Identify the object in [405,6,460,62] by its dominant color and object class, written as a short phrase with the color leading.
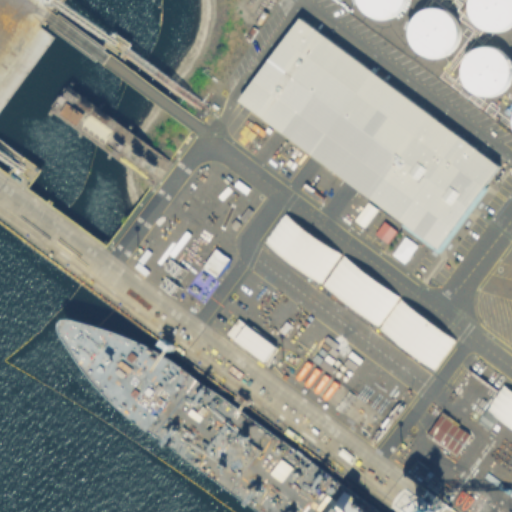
white storage tank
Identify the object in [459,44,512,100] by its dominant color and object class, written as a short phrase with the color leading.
white storage tank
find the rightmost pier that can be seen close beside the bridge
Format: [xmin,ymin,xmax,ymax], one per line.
[48,90,177,186]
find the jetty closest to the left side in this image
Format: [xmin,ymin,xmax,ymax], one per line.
[0,138,41,188]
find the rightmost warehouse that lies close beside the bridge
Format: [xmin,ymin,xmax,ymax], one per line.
[238,20,500,255]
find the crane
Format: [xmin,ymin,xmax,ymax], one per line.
[396,492,445,512]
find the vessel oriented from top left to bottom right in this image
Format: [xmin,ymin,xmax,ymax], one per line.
[57,320,374,512]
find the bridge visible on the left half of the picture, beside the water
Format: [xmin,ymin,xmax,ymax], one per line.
[46,14,200,130]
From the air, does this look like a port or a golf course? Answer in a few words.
port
